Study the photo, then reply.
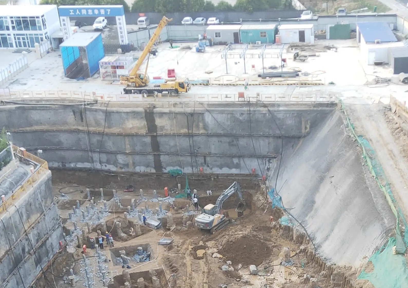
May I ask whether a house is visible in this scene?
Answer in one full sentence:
Yes, there is a house in the image.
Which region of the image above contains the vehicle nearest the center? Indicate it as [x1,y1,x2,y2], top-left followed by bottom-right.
[195,166,241,234]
